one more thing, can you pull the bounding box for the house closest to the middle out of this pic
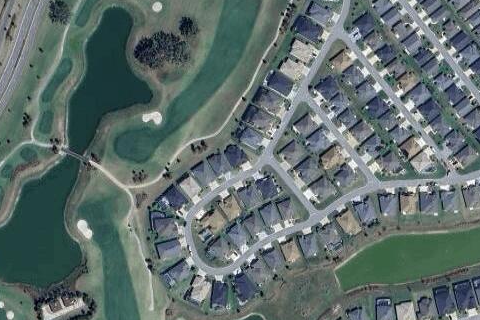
[222,142,245,169]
